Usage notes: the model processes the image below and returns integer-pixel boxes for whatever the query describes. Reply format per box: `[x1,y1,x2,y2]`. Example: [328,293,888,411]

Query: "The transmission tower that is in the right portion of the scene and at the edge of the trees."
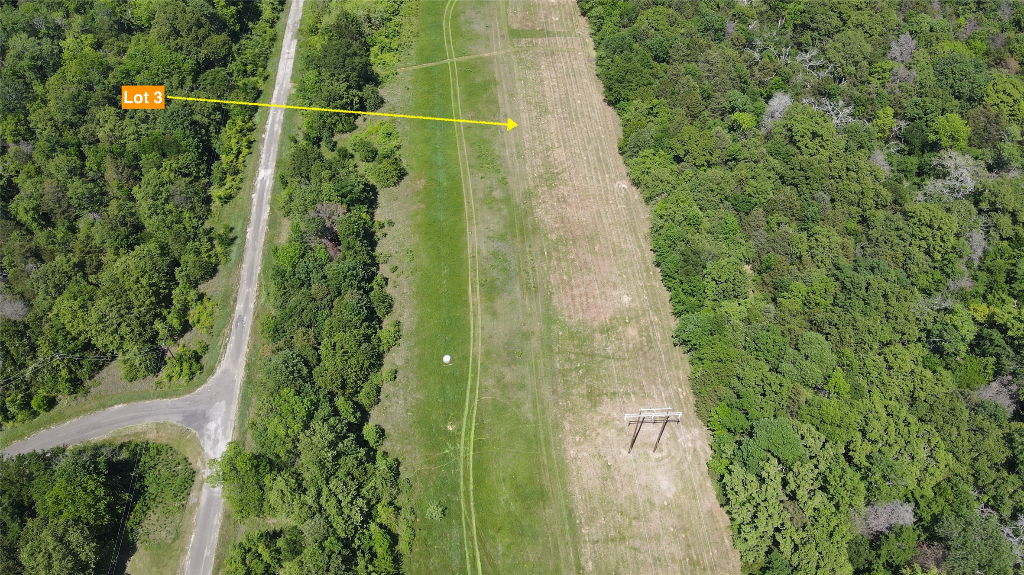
[625,406,681,455]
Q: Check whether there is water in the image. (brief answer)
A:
No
